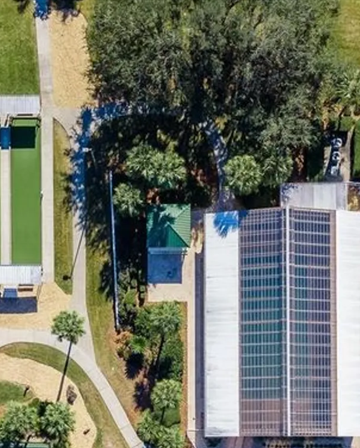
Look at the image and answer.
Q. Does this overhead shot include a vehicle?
No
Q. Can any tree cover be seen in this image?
Yes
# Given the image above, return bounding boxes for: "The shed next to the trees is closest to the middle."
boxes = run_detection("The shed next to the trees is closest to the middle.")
[147,204,191,284]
